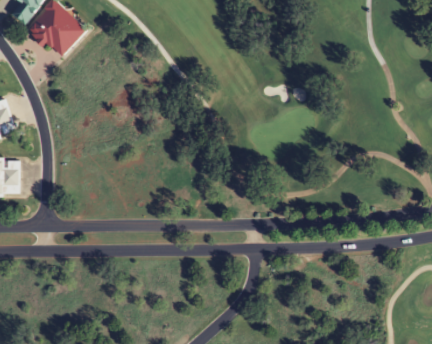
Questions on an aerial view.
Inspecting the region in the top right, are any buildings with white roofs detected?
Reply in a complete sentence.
No, there is no building with a white roof in the top right.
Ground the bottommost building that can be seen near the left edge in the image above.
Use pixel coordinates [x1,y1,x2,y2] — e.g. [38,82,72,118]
[0,157,22,198]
